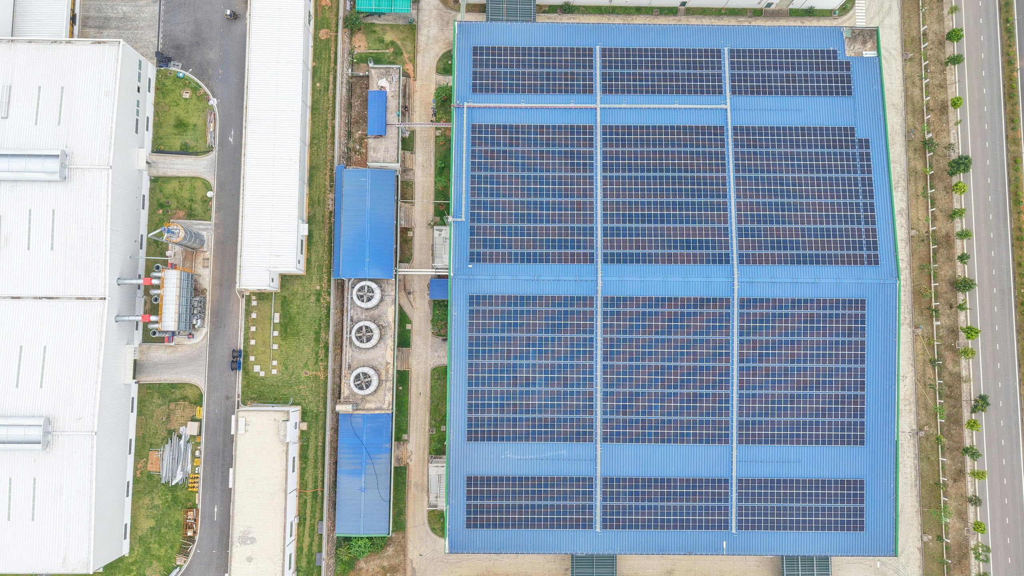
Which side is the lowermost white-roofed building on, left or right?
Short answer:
left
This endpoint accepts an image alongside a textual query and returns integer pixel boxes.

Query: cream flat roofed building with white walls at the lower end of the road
[227,403,304,576]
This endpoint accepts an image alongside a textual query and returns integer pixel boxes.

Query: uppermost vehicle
[221,7,240,19]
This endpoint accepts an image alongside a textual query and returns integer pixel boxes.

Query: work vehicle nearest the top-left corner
[147,47,168,66]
